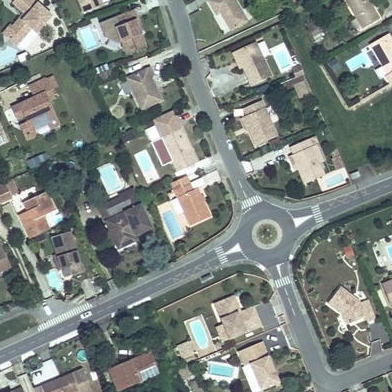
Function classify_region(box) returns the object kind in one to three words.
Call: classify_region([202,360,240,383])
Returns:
swimming pool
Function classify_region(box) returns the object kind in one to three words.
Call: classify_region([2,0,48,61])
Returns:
house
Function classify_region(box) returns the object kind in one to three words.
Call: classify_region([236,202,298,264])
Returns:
roundabout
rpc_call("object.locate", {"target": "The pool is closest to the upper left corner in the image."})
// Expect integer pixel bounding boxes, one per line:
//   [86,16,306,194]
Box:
[0,46,18,66]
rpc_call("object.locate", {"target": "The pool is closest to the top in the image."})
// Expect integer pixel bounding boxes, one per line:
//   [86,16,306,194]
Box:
[76,24,104,54]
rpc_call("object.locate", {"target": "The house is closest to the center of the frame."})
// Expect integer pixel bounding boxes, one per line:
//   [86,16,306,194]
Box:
[172,172,212,226]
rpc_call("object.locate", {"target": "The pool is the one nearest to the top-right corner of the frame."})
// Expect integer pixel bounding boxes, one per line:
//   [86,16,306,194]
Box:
[346,50,372,71]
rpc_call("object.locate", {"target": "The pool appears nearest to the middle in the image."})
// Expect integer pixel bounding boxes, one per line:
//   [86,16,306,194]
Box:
[162,208,184,238]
